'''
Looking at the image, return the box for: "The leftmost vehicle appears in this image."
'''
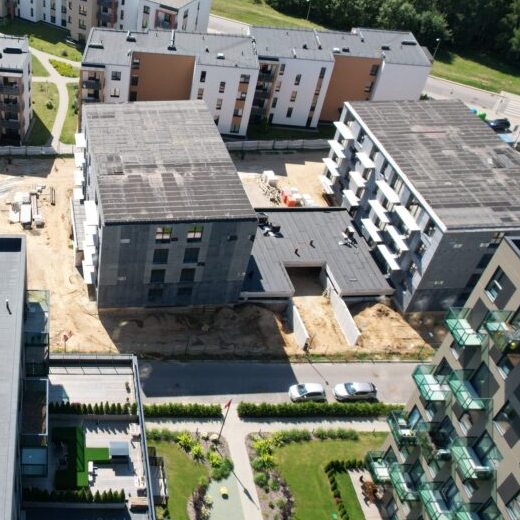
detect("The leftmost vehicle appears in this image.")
[288,382,329,402]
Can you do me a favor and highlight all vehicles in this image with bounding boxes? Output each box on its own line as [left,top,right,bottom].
[334,381,380,402]
[288,382,329,402]
[484,116,515,129]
